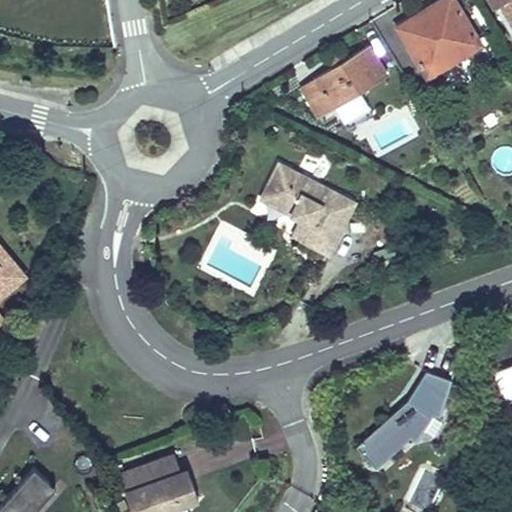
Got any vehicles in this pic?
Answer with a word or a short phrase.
Yes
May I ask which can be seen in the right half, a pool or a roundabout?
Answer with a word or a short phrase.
pool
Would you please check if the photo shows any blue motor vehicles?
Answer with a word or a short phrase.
No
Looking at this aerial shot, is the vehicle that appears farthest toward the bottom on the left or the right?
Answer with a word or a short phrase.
left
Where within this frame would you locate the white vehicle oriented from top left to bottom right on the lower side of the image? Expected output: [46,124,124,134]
[28,422,50,443]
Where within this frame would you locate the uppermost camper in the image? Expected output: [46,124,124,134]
[472,4,488,29]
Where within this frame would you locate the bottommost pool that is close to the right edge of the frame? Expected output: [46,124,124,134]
[492,144,512,176]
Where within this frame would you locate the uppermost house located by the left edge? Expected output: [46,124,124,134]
[0,244,29,308]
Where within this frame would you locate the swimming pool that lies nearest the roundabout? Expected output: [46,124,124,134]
[200,221,276,296]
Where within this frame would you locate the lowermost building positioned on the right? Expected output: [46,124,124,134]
[398,460,440,512]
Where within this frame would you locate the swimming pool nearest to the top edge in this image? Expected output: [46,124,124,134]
[352,106,420,157]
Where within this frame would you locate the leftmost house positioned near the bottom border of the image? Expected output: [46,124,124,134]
[0,474,54,512]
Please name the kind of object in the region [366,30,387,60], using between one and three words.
vehicle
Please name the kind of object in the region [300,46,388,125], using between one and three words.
house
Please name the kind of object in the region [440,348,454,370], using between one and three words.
vehicle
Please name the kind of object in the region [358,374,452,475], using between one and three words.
house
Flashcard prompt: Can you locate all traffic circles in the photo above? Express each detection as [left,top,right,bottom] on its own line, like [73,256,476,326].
[91,73,220,206]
